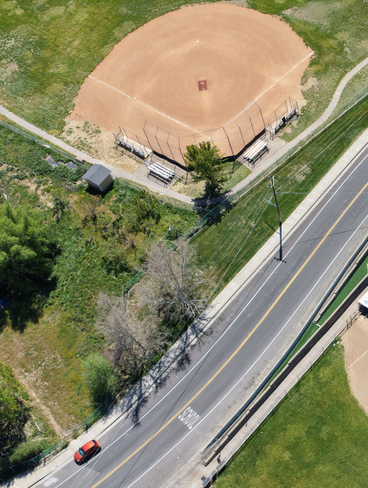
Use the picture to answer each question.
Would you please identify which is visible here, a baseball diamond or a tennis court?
baseball diamond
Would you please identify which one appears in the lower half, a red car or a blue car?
red car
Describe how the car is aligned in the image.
on a diagonal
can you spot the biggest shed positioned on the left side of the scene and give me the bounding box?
[82,164,113,193]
